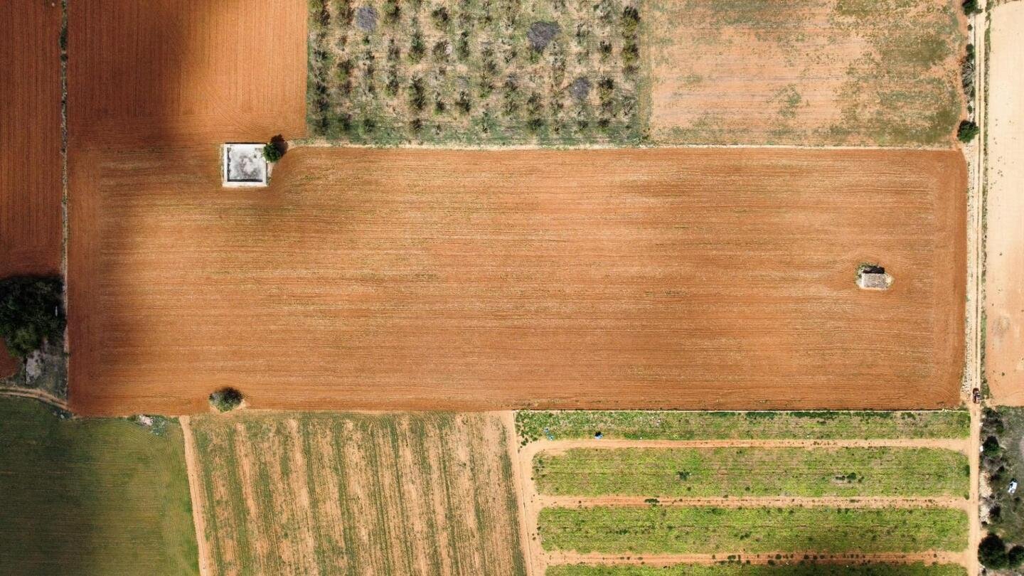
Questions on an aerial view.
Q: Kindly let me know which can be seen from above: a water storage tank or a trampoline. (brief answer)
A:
water storage tank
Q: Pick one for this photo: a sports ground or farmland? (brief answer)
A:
farmland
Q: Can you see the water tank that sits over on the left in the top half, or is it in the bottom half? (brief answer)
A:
top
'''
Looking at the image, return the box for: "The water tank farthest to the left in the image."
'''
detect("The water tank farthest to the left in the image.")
[221,145,267,189]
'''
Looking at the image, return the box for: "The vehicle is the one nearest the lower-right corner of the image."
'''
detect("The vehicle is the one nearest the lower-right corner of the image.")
[1006,480,1019,495]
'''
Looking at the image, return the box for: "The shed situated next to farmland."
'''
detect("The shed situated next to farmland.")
[860,272,888,289]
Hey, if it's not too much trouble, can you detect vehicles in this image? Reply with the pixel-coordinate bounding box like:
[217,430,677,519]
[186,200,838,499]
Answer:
[1006,480,1019,495]
[972,388,982,404]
